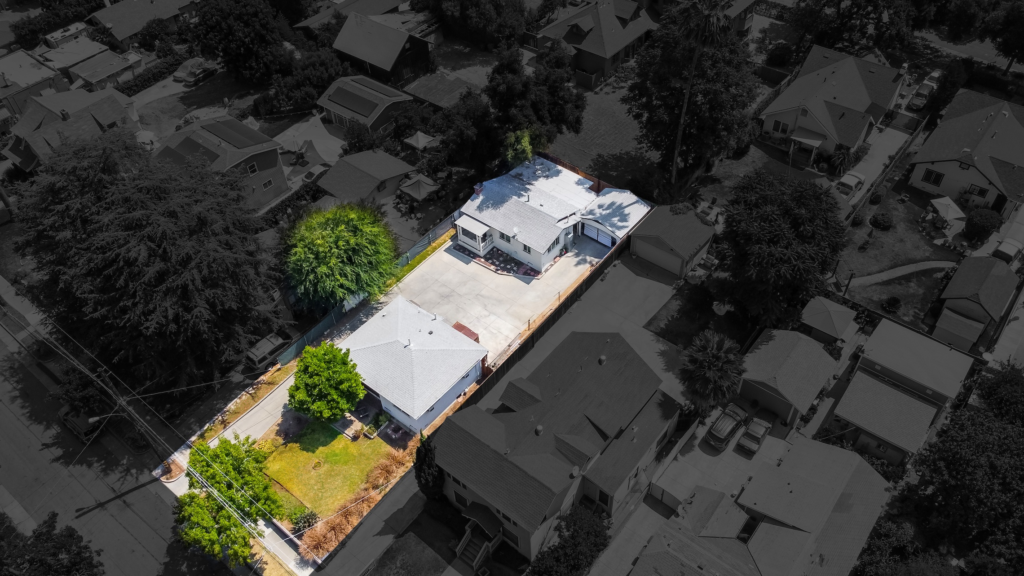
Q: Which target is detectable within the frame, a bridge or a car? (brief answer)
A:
car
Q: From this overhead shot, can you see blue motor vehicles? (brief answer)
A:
No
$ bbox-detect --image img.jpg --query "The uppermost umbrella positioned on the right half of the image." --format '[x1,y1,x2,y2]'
[930,198,965,221]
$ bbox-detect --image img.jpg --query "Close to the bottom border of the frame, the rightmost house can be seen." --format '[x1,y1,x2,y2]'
[623,423,890,576]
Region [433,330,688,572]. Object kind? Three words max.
house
